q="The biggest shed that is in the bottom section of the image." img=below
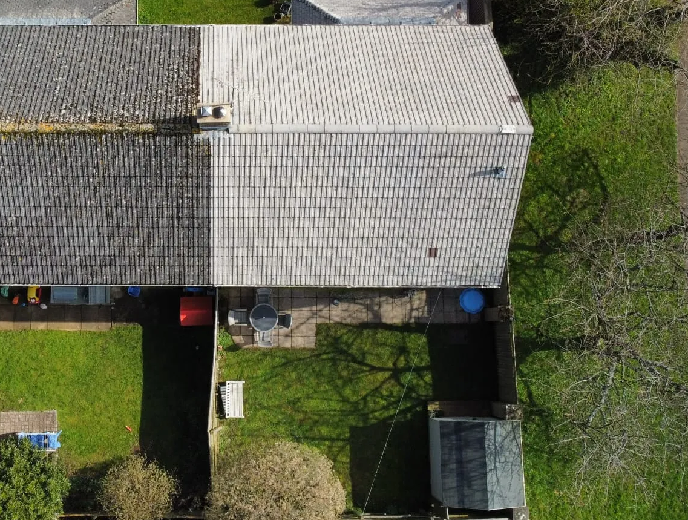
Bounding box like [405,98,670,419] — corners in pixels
[430,416,525,511]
